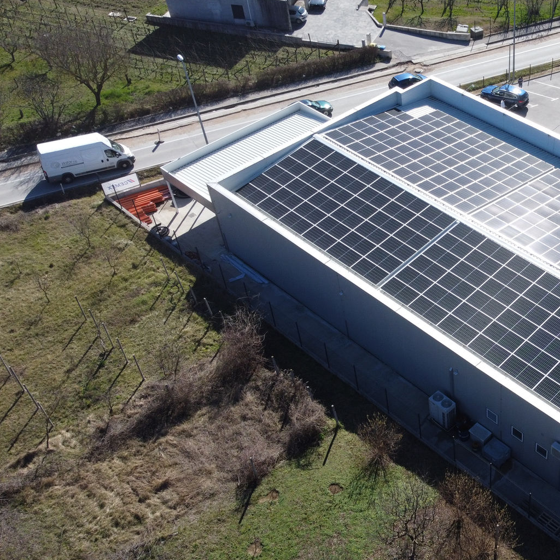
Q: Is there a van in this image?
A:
Yes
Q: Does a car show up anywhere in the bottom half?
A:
No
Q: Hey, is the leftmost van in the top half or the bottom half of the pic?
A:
top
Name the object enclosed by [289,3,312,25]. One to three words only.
car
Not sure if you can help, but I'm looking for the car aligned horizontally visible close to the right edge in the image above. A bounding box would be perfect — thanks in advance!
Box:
[480,83,532,110]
